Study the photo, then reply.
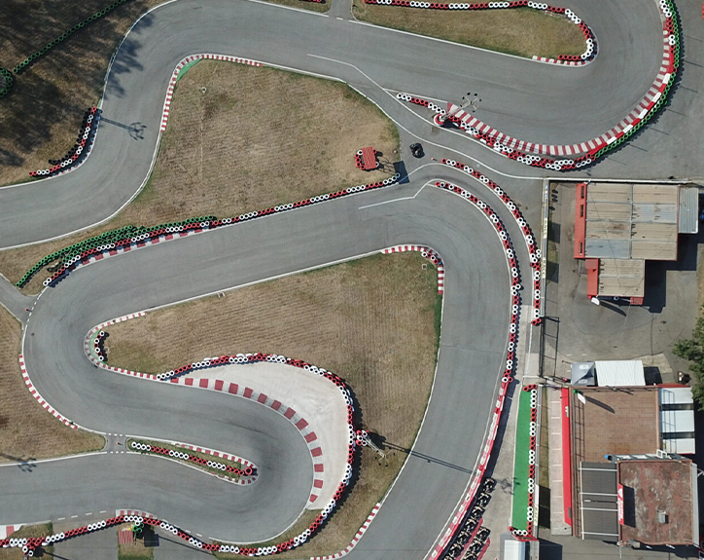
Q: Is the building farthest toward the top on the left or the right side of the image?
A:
right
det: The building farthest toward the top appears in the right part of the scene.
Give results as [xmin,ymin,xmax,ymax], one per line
[575,183,700,304]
